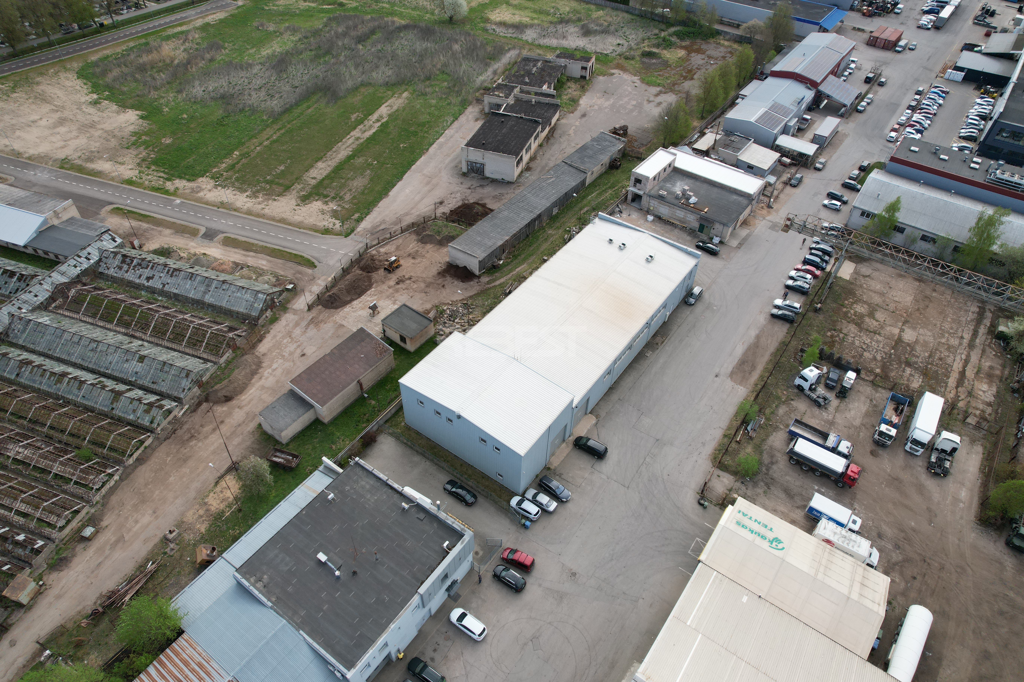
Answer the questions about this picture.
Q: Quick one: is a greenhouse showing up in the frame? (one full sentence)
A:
Yes, there's a greenhouse here.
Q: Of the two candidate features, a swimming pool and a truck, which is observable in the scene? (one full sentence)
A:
Of the two, only a truck appears.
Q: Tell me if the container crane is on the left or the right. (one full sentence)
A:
You can find the container crane on the right side of the picture.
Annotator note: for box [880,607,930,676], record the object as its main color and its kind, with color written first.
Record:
white trailer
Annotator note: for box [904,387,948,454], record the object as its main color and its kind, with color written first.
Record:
white truck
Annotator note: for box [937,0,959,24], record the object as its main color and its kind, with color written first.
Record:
white truck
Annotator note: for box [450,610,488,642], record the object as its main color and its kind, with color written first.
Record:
white car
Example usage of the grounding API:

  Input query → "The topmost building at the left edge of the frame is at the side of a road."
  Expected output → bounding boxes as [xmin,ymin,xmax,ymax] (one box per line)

[0,181,79,265]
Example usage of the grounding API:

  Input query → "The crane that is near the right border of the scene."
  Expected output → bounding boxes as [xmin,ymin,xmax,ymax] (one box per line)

[778,208,1024,321]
